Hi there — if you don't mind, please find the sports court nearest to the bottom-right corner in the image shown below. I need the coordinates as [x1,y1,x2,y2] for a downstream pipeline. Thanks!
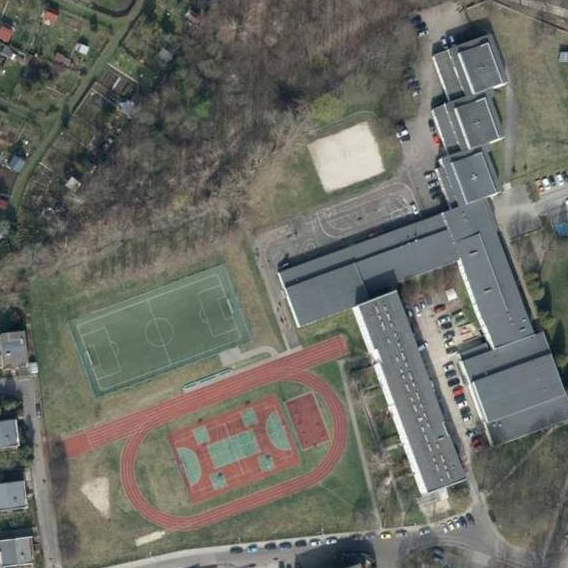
[284,392,328,449]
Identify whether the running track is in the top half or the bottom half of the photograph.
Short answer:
bottom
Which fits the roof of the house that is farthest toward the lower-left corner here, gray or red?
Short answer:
gray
